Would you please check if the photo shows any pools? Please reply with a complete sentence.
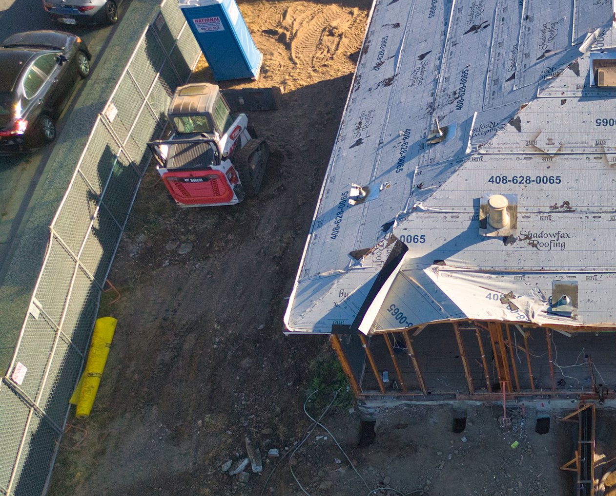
No, I find no pool anywhere in the image.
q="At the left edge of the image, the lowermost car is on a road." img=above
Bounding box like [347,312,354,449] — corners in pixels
[0,30,91,149]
